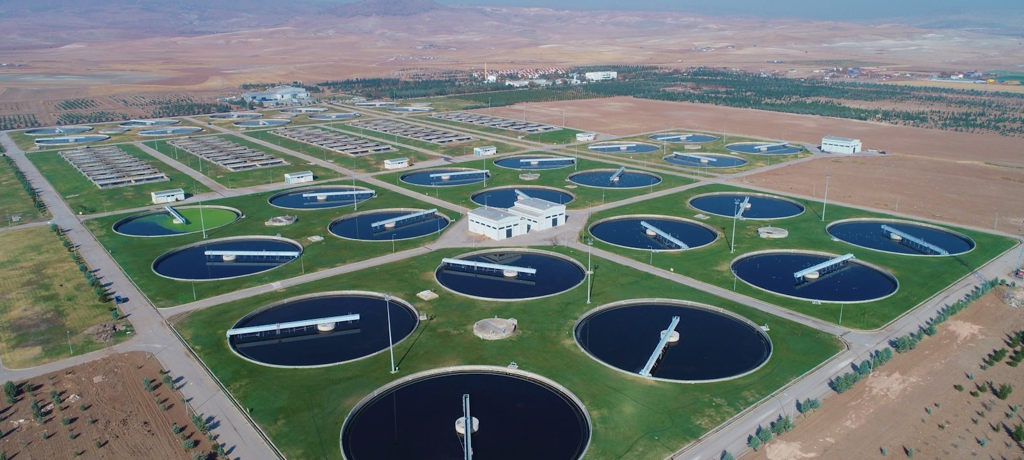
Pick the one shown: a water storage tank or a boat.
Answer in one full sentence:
There is a water storage tank in the scene.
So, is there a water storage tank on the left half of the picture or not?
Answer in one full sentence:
Yes, the scene does show a water storage tank on the left half of the picture.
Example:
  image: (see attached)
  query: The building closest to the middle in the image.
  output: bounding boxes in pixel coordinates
[470,197,567,240]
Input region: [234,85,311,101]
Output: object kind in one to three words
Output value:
building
